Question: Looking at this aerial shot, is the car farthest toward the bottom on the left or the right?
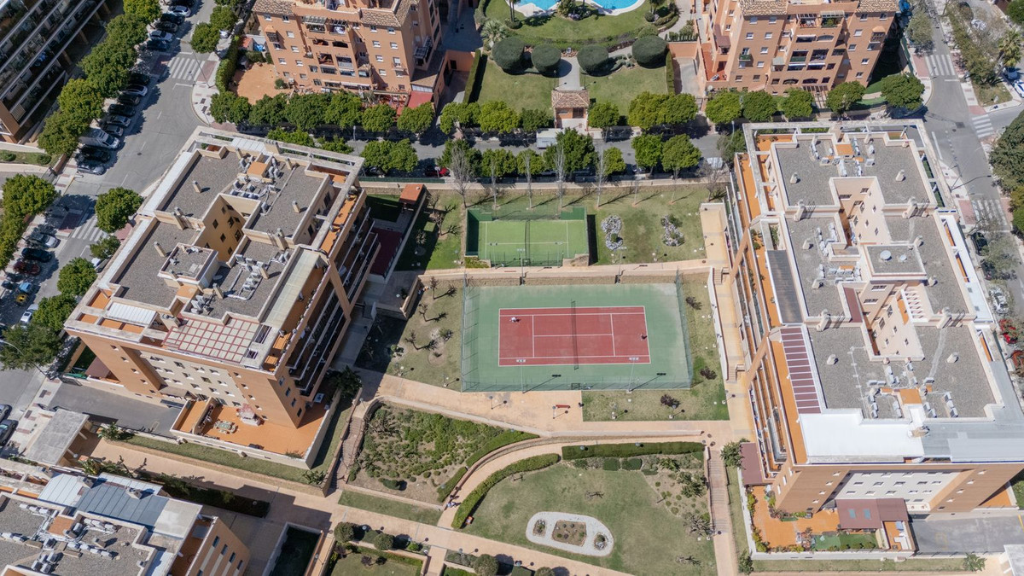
left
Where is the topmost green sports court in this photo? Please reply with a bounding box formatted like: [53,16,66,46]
[473,201,594,268]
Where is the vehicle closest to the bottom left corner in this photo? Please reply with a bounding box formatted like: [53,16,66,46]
[0,415,20,444]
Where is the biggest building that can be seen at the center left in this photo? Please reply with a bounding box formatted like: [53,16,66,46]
[59,130,383,430]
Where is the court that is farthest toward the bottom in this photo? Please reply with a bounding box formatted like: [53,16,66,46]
[462,282,692,393]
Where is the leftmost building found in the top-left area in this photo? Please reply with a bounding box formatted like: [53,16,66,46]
[0,0,120,142]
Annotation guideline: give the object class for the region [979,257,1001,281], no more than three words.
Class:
car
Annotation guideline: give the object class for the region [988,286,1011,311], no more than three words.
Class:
car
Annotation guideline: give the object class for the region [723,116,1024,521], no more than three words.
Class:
building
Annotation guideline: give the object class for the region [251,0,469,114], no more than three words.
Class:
building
